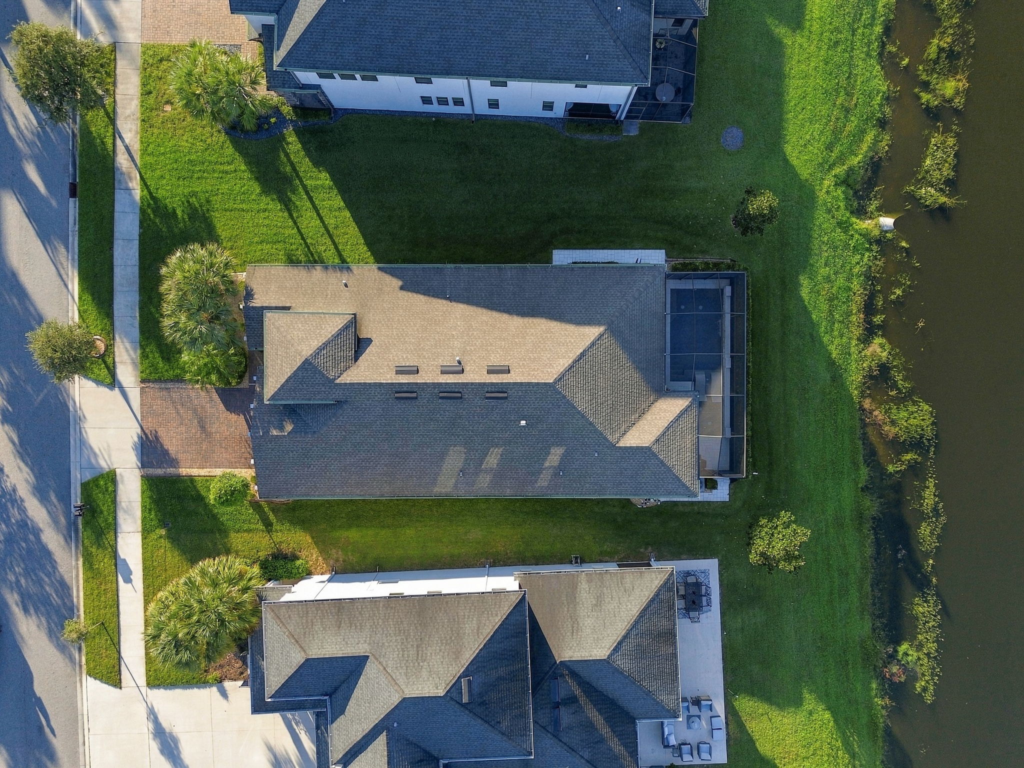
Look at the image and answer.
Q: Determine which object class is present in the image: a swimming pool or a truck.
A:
swimming pool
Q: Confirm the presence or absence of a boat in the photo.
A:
No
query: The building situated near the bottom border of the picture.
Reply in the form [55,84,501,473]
[246,555,682,768]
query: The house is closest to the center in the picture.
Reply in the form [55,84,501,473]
[240,265,699,500]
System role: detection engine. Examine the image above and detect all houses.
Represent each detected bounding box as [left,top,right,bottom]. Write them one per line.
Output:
[240,265,699,500]
[246,555,682,768]
[226,0,712,121]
